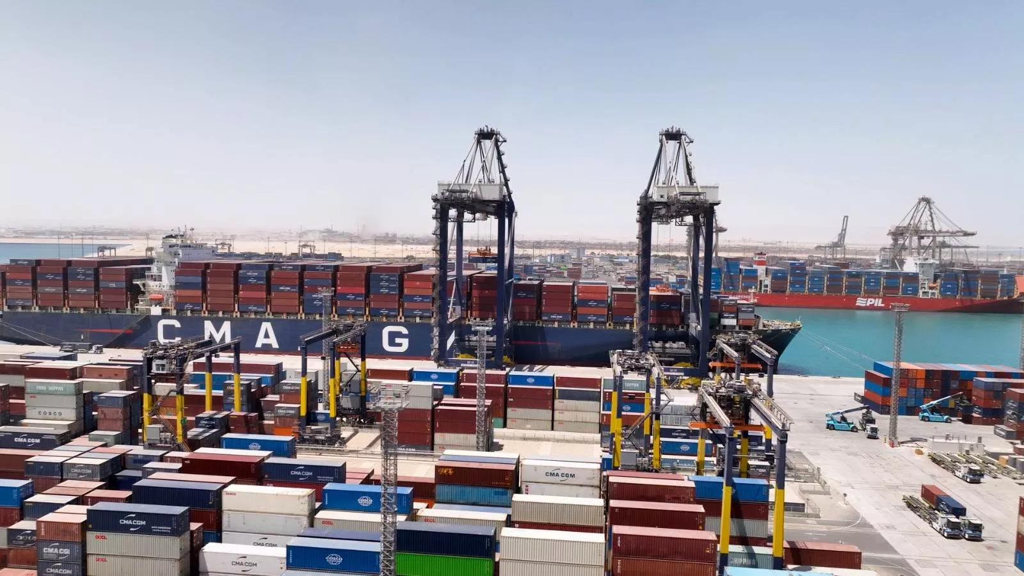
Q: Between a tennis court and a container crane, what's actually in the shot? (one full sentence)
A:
It is a container crane that can be seen here.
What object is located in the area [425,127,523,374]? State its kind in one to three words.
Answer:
container crane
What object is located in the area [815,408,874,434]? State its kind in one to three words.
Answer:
work vehicle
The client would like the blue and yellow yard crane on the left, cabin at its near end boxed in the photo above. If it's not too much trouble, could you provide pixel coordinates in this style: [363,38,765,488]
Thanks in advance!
[139,333,245,454]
